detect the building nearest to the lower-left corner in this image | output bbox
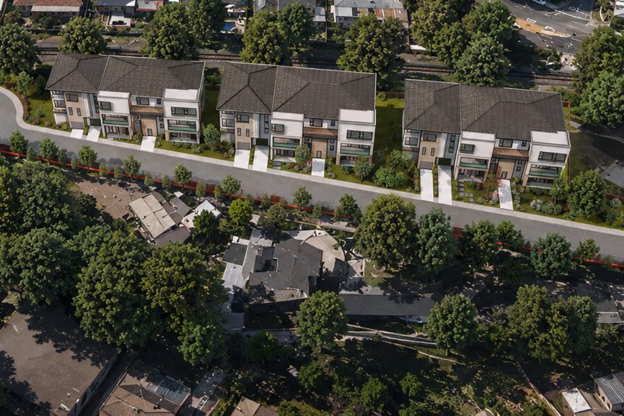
[0,308,120,416]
